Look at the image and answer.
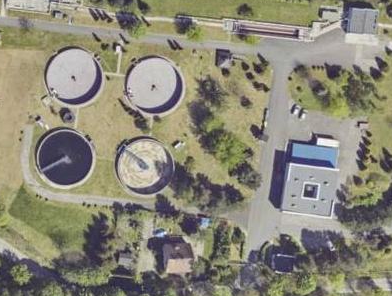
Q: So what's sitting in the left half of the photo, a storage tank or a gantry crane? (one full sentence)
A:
You can see a storage tank in the left half of the photo.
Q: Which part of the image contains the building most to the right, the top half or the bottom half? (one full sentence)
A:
It is in the top half that the building most to the right appears.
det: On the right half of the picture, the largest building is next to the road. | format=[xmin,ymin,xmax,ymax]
[283,137,340,220]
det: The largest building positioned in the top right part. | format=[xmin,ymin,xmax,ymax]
[349,8,379,35]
